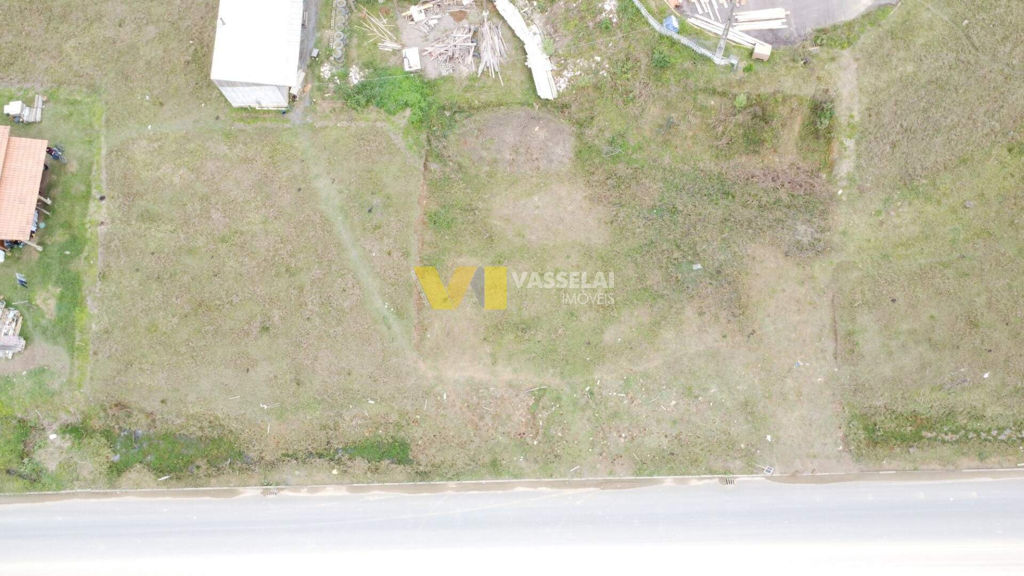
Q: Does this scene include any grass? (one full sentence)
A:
Yes, the picture does contain grass.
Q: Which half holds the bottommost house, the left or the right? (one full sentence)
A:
The bottommost house appears in the left half of the scene.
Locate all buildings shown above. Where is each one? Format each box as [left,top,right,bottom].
[0,125,53,251]
[210,0,304,107]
